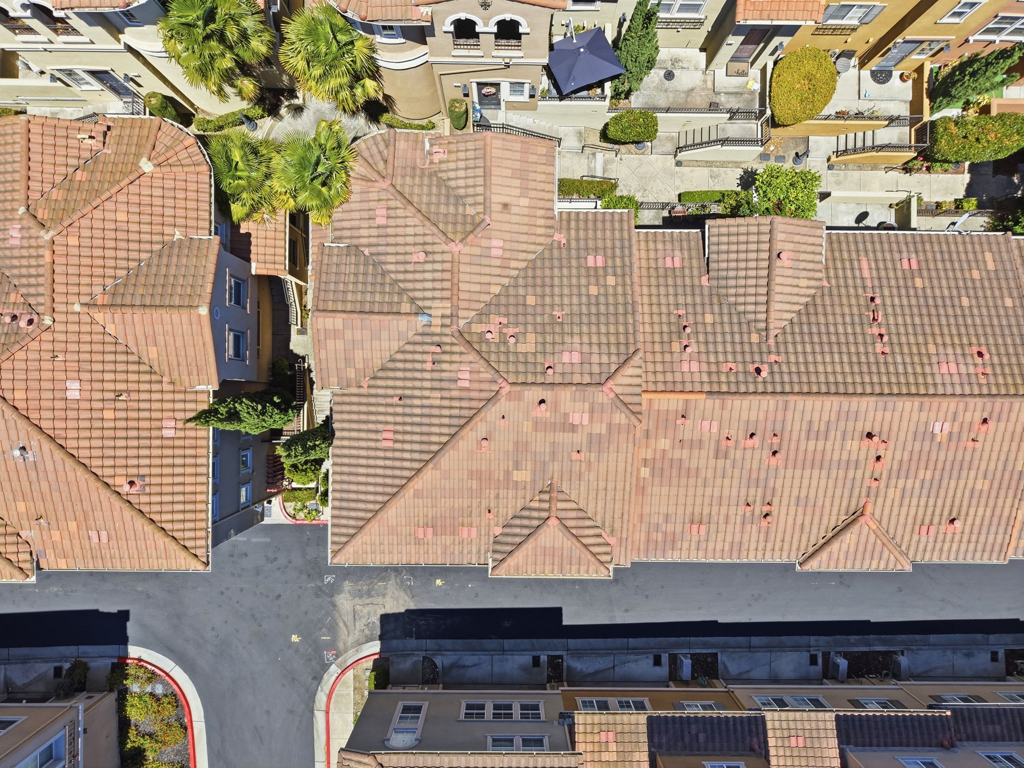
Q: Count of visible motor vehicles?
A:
0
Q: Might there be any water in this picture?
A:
No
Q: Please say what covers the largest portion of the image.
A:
buildings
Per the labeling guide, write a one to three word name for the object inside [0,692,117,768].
house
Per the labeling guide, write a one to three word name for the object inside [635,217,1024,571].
house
